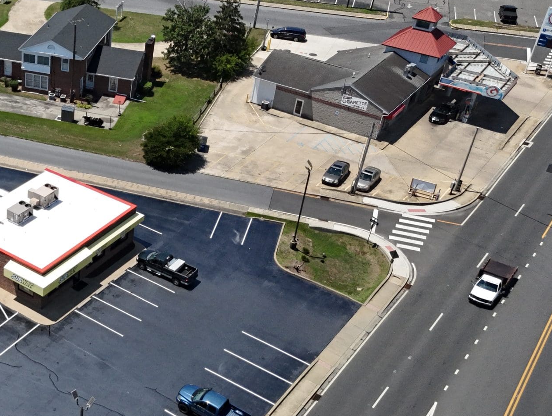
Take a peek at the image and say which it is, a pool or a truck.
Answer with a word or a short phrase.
truck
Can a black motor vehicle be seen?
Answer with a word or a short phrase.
Yes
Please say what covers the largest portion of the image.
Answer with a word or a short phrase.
paved ground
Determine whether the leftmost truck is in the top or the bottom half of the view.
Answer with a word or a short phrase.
bottom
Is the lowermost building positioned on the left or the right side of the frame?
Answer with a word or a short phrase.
left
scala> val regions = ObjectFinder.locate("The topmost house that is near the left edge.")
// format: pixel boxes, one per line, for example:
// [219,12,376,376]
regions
[0,3,154,101]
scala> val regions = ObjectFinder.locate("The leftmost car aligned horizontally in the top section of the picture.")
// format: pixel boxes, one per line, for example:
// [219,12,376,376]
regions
[268,27,308,45]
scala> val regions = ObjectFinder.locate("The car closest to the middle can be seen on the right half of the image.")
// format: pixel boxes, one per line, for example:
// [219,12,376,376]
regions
[319,160,353,189]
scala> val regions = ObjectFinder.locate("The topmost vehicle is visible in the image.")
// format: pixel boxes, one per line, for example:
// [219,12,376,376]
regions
[497,5,519,25]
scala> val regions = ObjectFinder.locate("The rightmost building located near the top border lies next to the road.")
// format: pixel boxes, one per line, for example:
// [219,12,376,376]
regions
[250,5,455,138]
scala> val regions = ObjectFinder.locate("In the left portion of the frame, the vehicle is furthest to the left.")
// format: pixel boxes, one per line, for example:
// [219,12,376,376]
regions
[135,251,206,291]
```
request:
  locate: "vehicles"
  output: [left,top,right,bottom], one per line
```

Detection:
[135,251,206,291]
[319,160,353,189]
[497,5,519,25]
[464,254,525,313]
[170,384,255,416]
[268,27,308,45]
[351,166,385,194]
[426,99,459,126]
